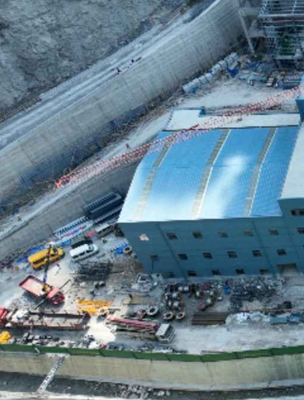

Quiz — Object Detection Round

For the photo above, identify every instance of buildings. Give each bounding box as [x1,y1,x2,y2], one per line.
[111,79,304,283]
[231,0,304,67]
